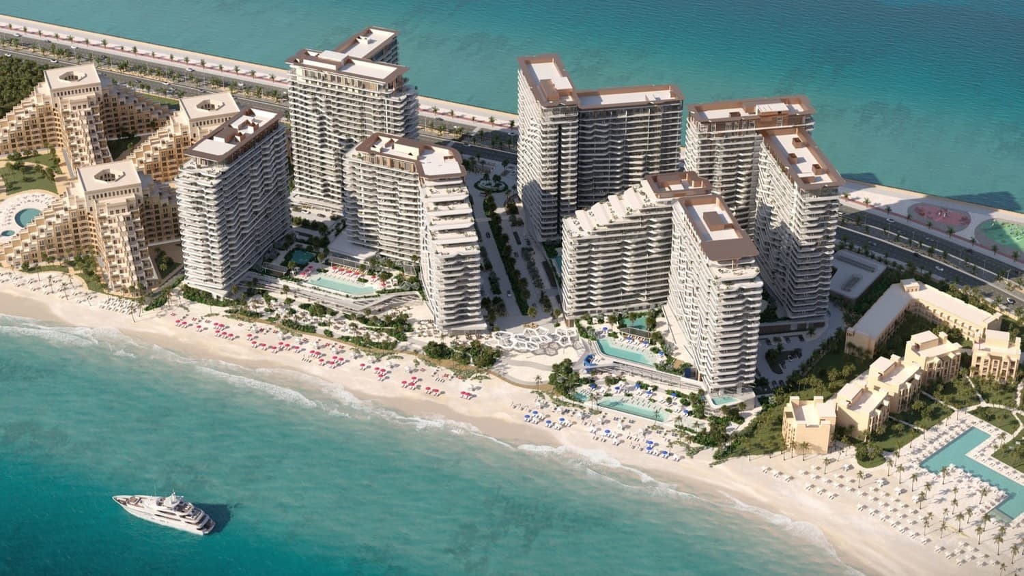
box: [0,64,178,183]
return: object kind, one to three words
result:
building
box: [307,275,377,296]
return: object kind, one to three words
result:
swimming pool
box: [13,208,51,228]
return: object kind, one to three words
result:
swimming pool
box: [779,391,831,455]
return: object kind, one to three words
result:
house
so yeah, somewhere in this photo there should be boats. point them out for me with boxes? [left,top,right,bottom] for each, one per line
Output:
[112,497,217,539]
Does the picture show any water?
Yes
